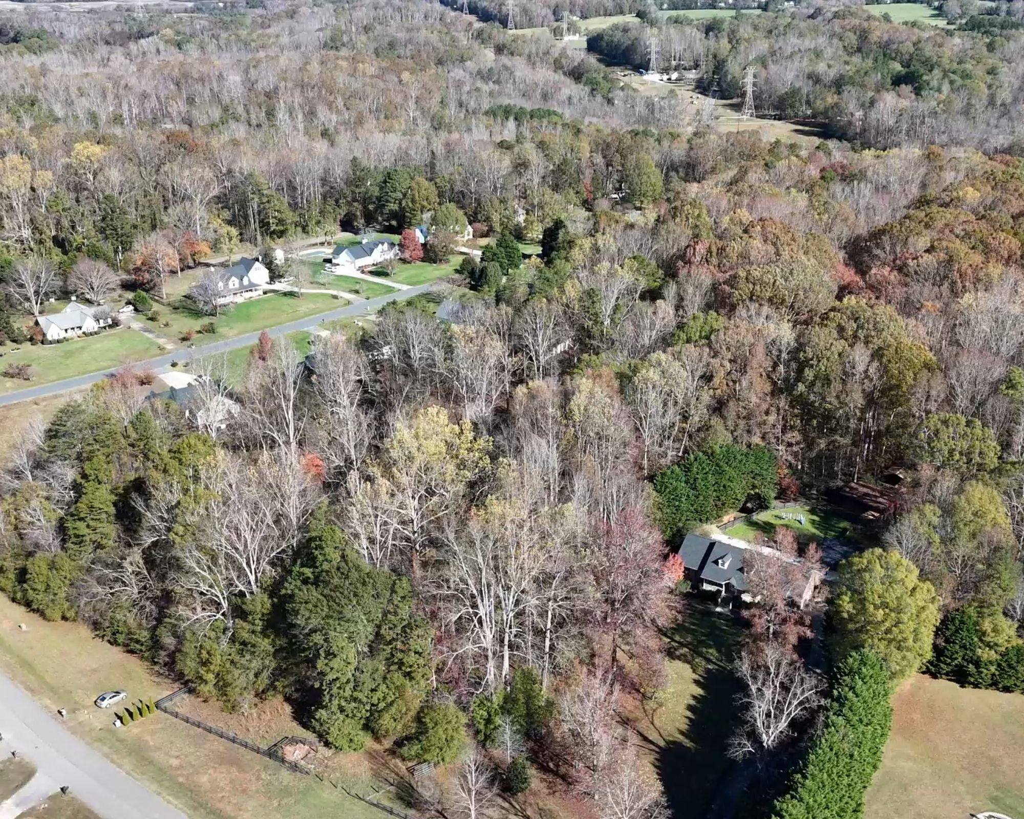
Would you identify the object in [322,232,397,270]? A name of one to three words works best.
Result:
house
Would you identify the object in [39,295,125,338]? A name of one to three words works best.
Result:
house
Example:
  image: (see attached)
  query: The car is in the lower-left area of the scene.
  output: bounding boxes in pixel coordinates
[93,691,128,711]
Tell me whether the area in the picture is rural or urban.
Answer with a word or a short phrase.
rural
